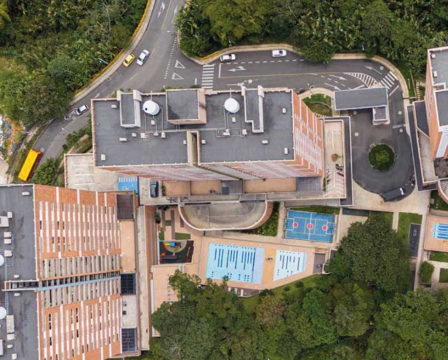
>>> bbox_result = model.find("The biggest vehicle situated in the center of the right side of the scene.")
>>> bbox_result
[381,189,405,202]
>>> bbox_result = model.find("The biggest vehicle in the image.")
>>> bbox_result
[15,150,41,182]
